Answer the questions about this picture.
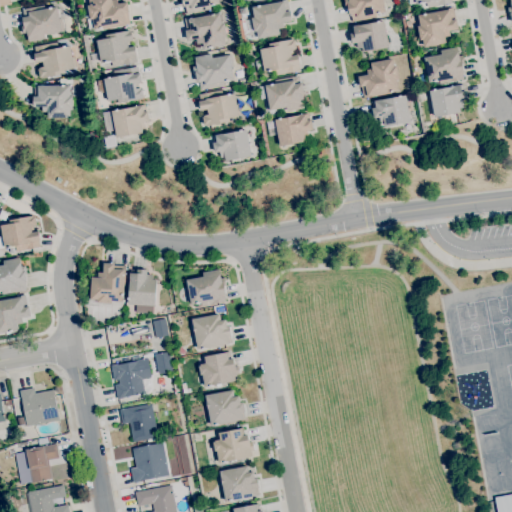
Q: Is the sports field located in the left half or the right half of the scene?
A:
right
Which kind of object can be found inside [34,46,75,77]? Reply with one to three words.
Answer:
house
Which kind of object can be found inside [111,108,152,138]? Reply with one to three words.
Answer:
house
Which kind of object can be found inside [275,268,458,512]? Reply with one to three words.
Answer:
sports field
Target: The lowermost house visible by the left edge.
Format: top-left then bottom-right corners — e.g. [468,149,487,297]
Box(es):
[24,484,70,512]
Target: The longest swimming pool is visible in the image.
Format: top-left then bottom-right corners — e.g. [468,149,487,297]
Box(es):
[38,422,60,435]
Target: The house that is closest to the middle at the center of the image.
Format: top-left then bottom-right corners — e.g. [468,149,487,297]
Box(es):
[188,269,229,307]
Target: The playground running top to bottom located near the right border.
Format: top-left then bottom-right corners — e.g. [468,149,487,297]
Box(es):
[443,282,512,512]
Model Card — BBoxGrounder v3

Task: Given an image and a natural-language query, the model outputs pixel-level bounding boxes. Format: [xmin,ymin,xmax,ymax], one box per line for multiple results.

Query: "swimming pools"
[38,422,60,435]
[178,500,188,512]
[216,304,227,314]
